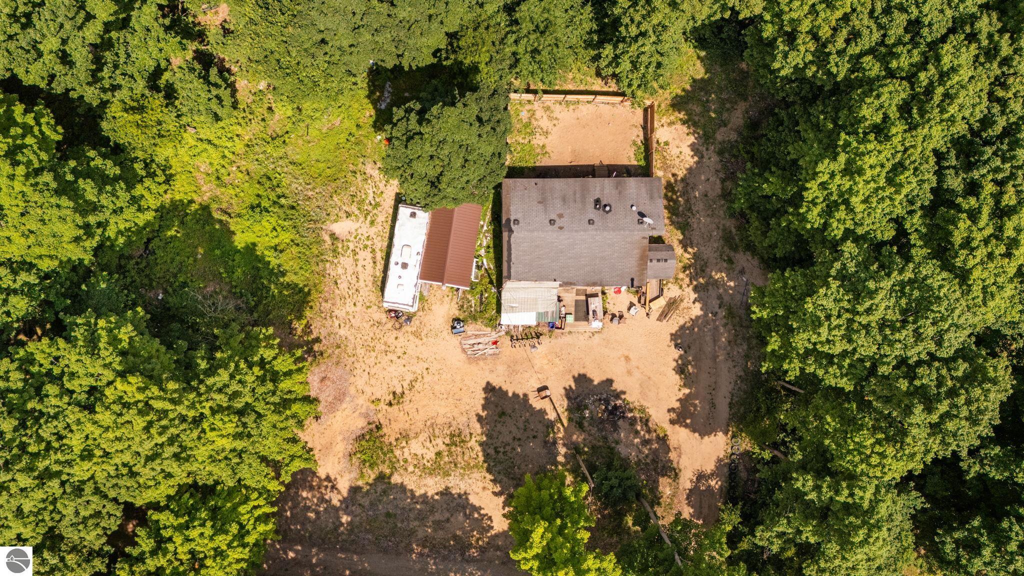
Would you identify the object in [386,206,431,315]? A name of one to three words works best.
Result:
trailer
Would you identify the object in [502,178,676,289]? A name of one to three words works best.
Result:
house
